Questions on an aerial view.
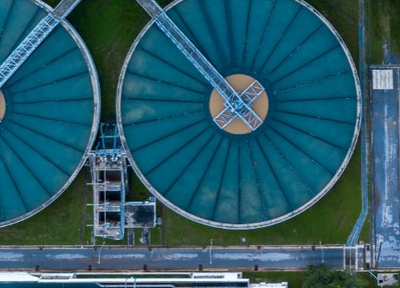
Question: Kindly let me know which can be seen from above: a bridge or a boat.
bridge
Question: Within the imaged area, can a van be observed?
No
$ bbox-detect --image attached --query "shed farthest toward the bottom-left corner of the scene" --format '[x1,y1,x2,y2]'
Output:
[125,193,162,228]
